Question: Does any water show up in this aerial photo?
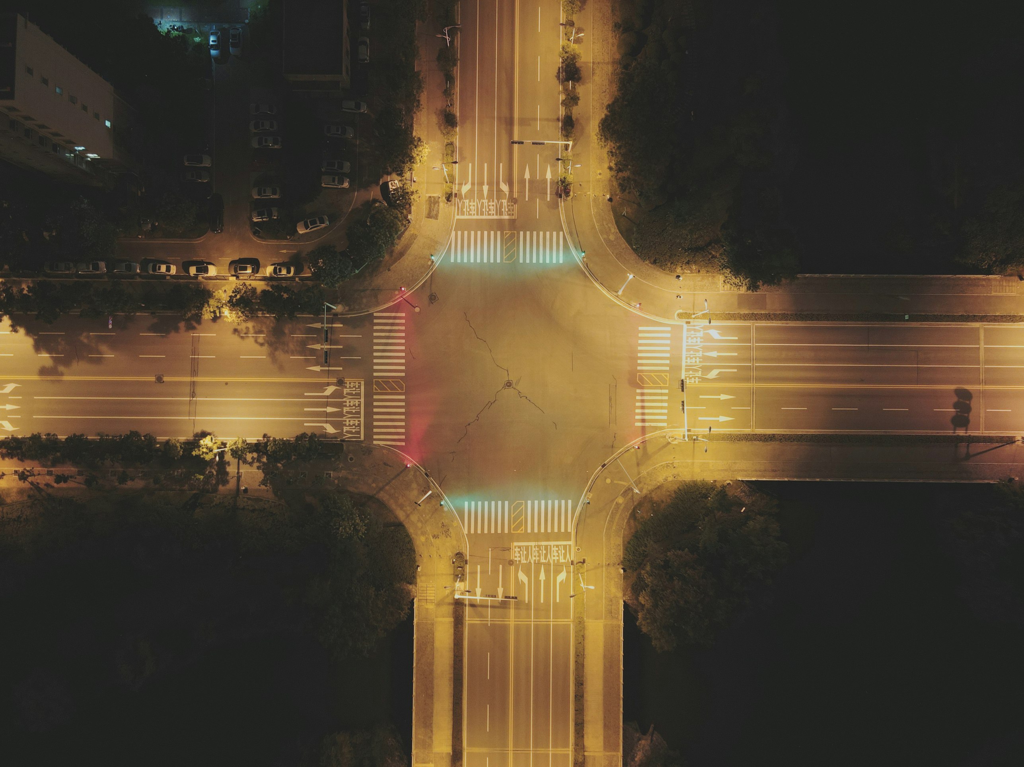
Yes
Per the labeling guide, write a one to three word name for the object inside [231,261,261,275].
car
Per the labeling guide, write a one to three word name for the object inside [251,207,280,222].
car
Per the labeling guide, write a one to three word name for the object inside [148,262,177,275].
vehicle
